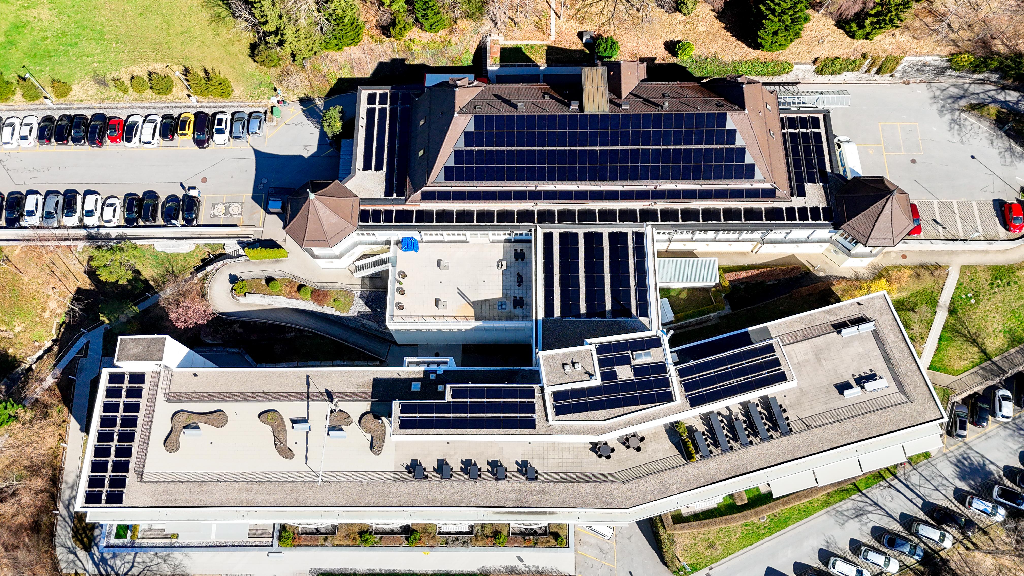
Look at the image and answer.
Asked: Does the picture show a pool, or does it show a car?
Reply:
car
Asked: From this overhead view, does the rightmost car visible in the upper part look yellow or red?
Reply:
red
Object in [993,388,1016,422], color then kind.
white car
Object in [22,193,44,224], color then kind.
white car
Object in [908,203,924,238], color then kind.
red car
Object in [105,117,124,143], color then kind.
red car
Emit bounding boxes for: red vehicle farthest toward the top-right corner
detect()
[1003,202,1024,232]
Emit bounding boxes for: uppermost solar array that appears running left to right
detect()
[433,113,765,182]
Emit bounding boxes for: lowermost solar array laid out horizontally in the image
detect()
[400,388,544,430]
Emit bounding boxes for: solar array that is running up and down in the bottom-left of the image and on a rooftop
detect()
[83,373,147,506]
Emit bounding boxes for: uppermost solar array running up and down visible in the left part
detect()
[362,91,411,196]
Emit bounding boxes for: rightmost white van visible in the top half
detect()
[837,137,871,178]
